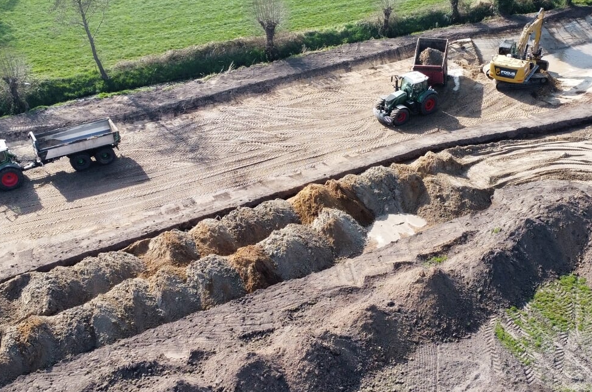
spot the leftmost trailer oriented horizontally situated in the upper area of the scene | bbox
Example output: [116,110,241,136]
[19,116,123,177]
